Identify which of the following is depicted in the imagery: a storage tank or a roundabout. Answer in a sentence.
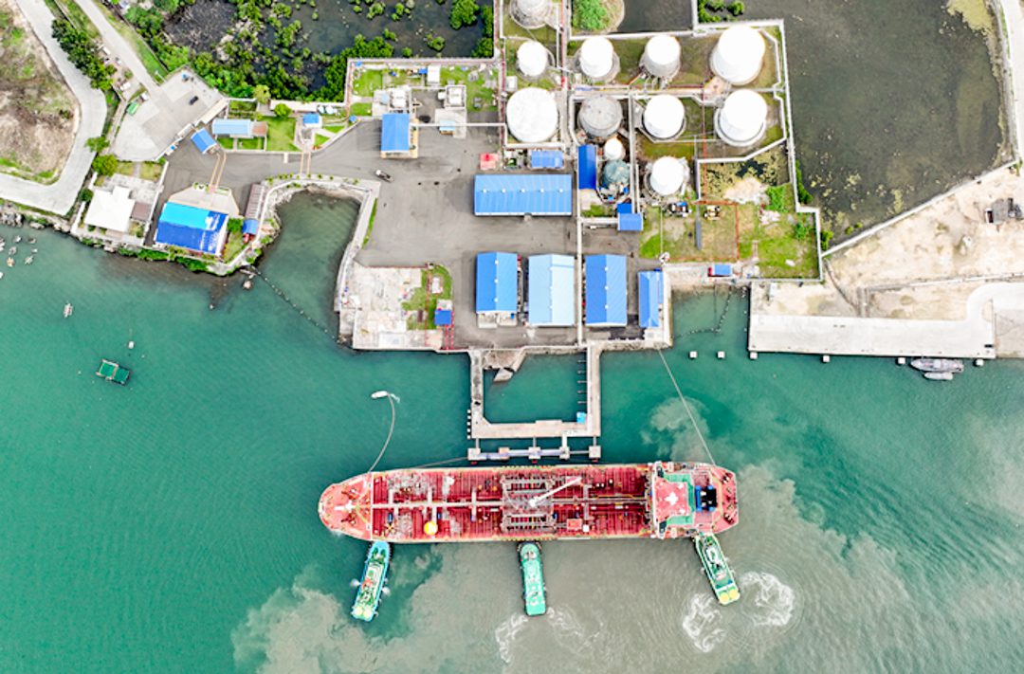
Visible in the photo is a storage tank.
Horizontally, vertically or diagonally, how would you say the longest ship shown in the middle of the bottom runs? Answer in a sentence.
Seen from above, the longest ship shown in the middle of the bottom lies horizontally.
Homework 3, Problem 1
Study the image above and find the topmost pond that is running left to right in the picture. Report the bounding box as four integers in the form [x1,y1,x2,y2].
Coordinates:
[609,0,691,34]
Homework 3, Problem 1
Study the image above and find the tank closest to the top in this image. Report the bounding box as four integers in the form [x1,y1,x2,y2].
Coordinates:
[508,0,558,34]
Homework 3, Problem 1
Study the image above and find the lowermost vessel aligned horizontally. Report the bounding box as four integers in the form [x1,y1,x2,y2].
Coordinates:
[318,461,738,543]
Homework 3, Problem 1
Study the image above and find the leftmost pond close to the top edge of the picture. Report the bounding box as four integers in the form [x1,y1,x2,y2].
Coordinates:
[164,0,497,100]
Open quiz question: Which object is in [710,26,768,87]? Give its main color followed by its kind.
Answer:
white storage tank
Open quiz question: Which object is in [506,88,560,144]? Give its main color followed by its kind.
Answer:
white storage tank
